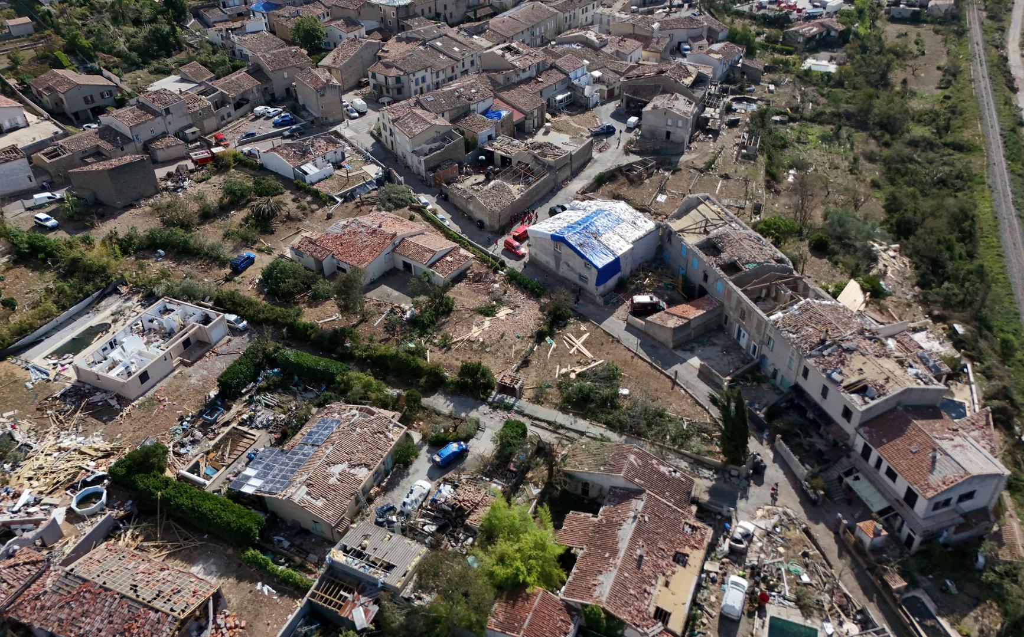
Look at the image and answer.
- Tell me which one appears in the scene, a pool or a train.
pool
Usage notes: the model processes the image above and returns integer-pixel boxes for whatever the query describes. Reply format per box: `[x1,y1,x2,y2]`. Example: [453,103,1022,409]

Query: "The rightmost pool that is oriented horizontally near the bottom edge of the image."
[764,612,822,637]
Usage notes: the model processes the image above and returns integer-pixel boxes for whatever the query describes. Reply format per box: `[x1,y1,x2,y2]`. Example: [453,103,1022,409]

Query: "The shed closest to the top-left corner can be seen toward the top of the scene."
[4,11,34,34]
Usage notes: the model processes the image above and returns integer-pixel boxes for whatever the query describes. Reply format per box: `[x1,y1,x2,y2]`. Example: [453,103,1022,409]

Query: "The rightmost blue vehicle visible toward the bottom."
[431,439,469,466]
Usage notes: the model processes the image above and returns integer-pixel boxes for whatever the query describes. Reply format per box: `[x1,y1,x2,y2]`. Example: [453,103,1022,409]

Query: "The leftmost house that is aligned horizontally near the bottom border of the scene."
[6,540,214,637]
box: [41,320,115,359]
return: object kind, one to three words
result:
swimming pool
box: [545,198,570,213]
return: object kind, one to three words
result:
car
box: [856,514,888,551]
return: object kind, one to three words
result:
shed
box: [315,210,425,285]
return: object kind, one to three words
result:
house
